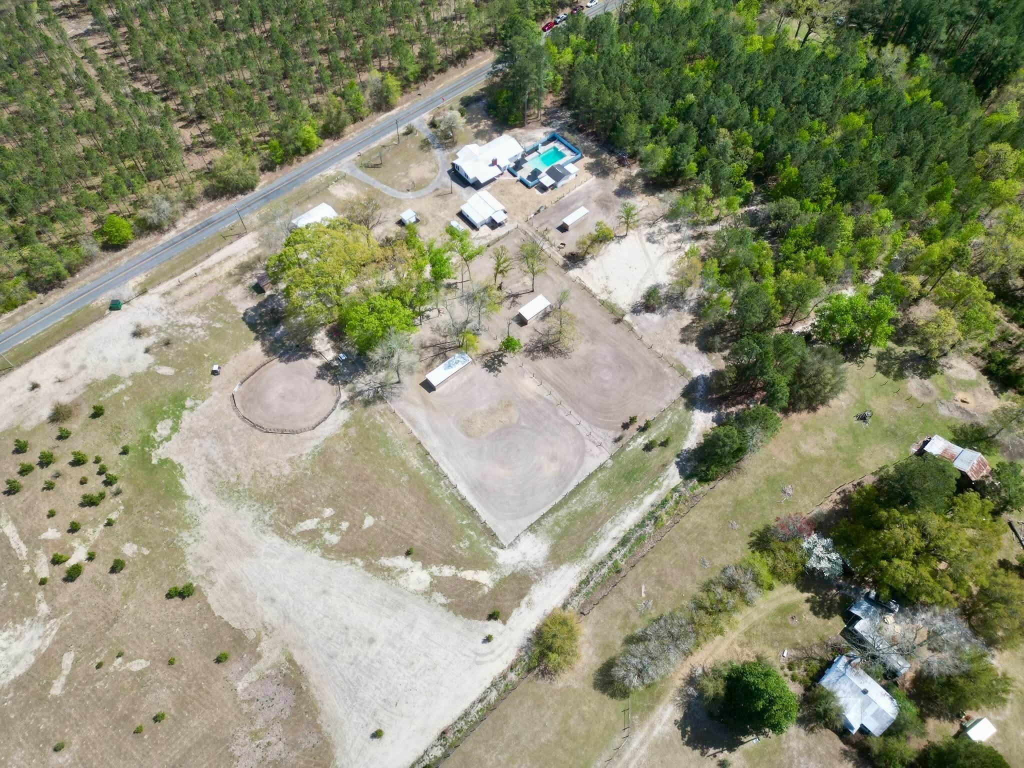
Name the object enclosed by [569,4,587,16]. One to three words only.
vehicle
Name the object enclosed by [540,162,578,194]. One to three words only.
shed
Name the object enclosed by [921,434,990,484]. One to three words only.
barn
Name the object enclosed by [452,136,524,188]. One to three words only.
house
